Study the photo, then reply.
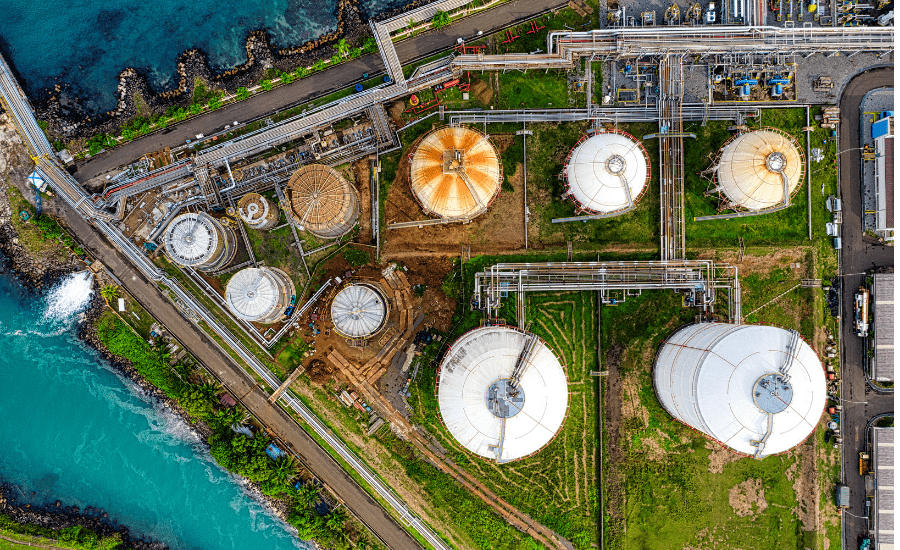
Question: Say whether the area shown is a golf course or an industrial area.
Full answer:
The picture captures an industrial area.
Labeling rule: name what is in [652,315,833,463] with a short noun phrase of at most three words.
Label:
storage tank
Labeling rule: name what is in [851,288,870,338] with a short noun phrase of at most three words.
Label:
vehicle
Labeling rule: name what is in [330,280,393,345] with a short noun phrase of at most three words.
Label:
storage tank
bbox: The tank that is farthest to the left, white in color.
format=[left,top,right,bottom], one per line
[159,210,238,272]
